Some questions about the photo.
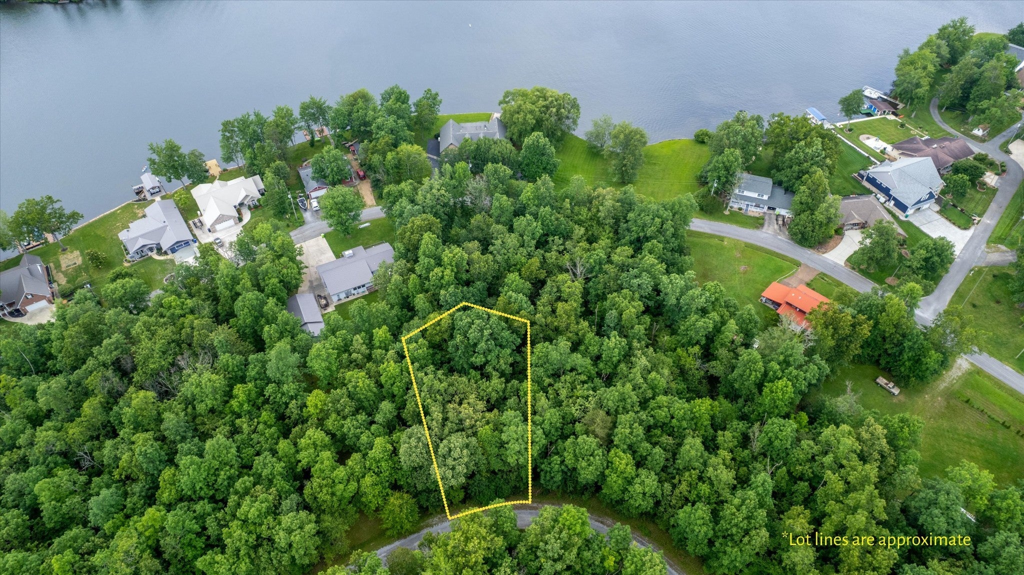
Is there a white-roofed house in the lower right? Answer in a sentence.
No, the scene shows no white-roofed house in the lower right.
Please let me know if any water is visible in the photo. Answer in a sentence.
Yes, water can be seen from above here.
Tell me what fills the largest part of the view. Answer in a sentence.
For the most part, this view shows trees.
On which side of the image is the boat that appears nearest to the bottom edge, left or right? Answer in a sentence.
The boat that appears nearest to the bottom edge appears in the left half of the scene.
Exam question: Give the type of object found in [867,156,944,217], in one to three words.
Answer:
house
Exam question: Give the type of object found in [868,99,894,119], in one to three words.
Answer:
building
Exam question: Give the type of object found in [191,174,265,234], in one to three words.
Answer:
house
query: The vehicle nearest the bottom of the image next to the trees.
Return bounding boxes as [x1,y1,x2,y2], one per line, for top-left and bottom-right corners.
[874,373,904,395]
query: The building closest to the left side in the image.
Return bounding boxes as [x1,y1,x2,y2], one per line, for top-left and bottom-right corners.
[0,254,54,316]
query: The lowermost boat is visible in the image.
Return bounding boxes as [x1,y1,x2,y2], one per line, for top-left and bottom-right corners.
[312,287,332,308]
